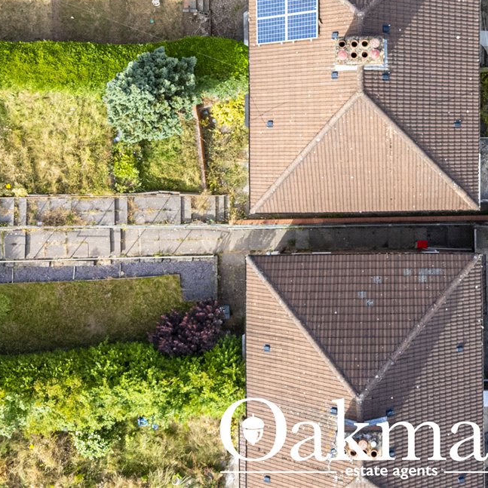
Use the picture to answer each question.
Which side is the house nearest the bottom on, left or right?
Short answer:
right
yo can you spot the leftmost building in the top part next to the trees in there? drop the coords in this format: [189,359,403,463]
[245,0,482,216]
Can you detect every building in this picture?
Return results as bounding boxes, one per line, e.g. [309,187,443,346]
[244,245,484,488]
[245,0,482,216]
